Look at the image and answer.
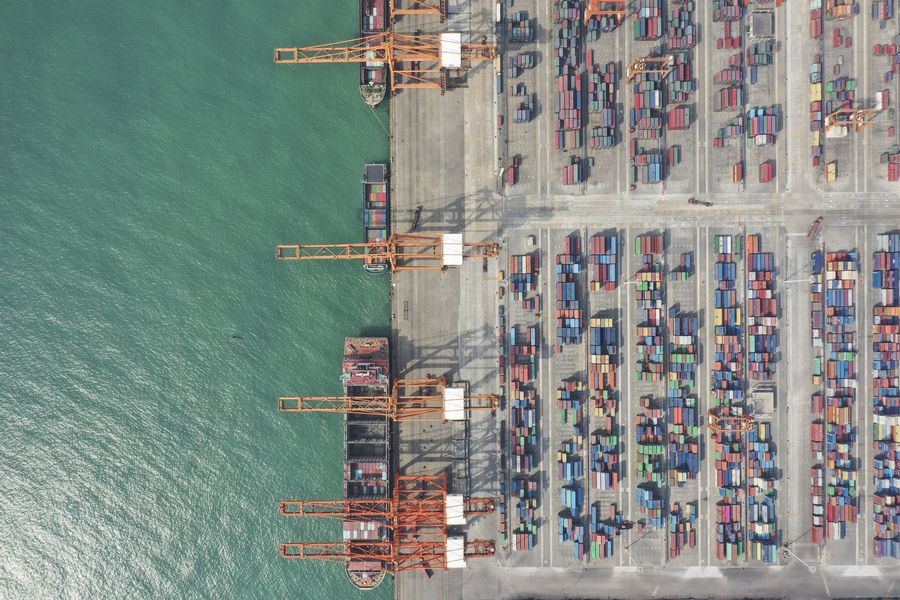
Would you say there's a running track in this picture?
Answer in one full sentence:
No, there isn't any running track down there.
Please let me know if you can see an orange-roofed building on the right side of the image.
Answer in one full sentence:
No, I can find no orange-roofed building on the right side of the image.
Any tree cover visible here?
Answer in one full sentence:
No, the picture contains no tree cover.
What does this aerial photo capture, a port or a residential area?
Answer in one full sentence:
It's a port.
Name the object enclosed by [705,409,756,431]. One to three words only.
container crane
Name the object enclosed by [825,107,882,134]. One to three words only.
container crane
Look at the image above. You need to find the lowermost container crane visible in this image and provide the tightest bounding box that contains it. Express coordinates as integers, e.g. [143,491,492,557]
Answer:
[278,504,503,575]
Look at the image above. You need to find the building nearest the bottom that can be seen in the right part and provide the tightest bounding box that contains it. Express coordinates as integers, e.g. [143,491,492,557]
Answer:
[749,392,773,417]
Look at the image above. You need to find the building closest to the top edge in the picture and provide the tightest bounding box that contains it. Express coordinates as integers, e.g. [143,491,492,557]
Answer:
[744,12,773,43]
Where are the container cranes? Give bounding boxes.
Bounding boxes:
[273,25,497,101]
[277,365,501,424]
[584,0,628,28]
[278,460,502,530]
[825,107,882,134]
[627,56,674,85]
[278,504,503,575]
[705,409,756,431]
[388,0,445,29]
[275,227,499,281]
